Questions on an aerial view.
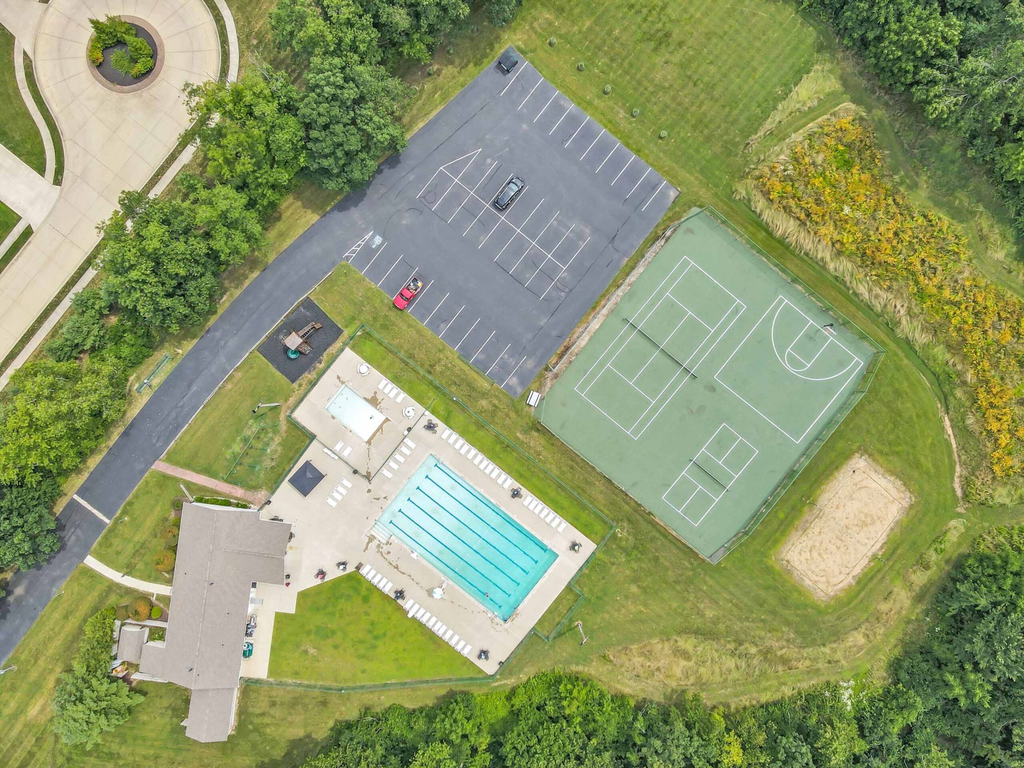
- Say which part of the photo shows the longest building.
bottom left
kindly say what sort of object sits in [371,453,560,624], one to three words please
swimming pool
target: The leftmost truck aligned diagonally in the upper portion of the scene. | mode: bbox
[394,275,424,312]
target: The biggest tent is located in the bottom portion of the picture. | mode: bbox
[288,457,332,497]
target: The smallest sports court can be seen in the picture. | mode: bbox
[777,451,917,605]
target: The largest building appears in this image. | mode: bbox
[139,502,295,743]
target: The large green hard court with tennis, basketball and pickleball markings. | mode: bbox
[535,207,875,558]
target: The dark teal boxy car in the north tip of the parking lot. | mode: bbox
[497,46,522,75]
